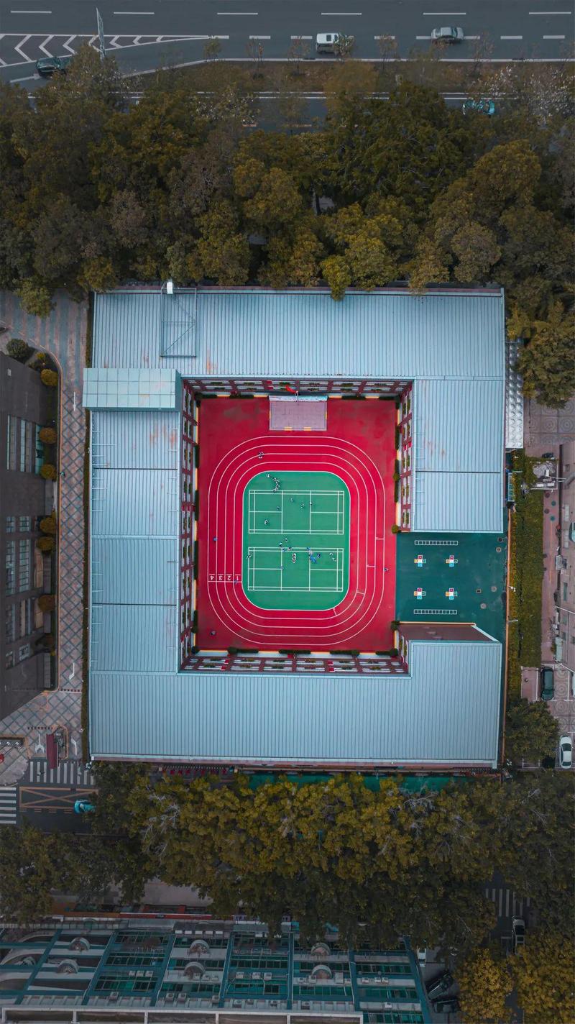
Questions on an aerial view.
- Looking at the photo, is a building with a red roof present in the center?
No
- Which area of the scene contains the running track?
center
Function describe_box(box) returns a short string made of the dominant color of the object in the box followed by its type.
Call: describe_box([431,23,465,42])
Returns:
gray car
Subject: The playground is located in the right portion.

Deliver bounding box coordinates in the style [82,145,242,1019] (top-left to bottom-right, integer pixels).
[397,439,512,640]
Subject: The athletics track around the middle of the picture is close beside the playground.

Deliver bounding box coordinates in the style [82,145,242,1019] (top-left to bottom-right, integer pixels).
[196,394,397,649]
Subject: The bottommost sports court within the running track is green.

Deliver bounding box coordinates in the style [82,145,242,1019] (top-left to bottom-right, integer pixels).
[247,547,344,592]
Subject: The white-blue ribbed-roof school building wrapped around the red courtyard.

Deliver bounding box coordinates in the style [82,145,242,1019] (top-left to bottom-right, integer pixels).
[82,287,506,769]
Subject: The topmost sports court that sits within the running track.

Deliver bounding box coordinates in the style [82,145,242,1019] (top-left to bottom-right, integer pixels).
[248,490,345,535]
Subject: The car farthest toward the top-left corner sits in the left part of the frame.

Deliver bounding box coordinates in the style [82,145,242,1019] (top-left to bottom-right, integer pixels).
[33,55,69,76]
